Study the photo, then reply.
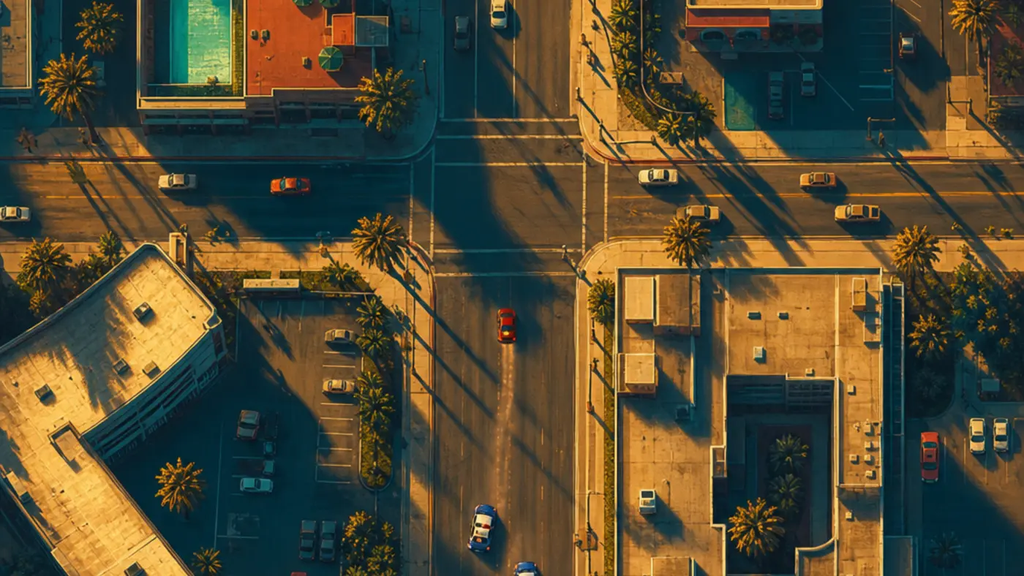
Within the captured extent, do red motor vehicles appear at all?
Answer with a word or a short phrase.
Yes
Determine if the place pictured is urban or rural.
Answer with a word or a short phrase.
urban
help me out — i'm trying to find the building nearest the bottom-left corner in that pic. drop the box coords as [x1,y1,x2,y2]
[0,242,233,576]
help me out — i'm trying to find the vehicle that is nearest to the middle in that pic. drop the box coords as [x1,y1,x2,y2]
[498,308,516,345]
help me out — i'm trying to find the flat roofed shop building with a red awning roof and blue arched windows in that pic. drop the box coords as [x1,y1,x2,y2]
[682,0,825,59]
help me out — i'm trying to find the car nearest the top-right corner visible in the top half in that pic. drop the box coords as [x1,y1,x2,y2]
[899,33,917,57]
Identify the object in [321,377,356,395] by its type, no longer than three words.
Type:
car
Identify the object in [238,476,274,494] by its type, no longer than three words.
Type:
car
